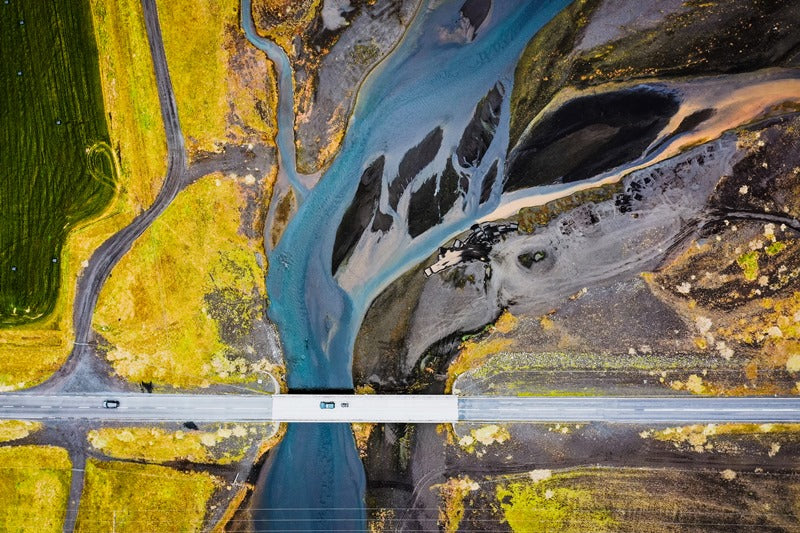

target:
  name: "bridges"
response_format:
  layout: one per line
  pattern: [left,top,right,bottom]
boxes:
[272,394,459,427]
